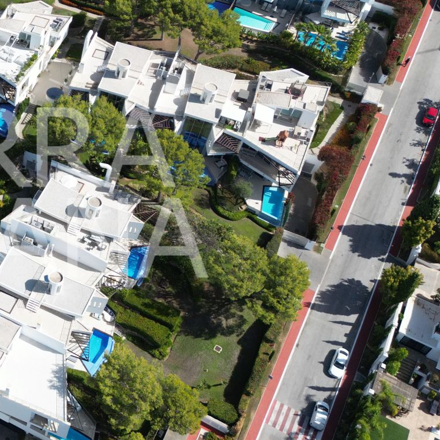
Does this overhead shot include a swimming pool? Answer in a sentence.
Yes, I can see a swimming pool in this picture.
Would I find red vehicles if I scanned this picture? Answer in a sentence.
Yes, a red vehicle appears in the view.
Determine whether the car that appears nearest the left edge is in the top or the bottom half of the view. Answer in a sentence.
You can find the car that appears nearest the left edge in the bottom half.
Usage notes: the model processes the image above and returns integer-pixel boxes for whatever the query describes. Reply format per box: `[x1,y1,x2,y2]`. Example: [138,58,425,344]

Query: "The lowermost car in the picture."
[305,398,332,434]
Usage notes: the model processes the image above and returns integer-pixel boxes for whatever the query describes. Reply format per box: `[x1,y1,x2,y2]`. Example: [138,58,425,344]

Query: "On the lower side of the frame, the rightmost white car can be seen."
[323,345,350,382]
